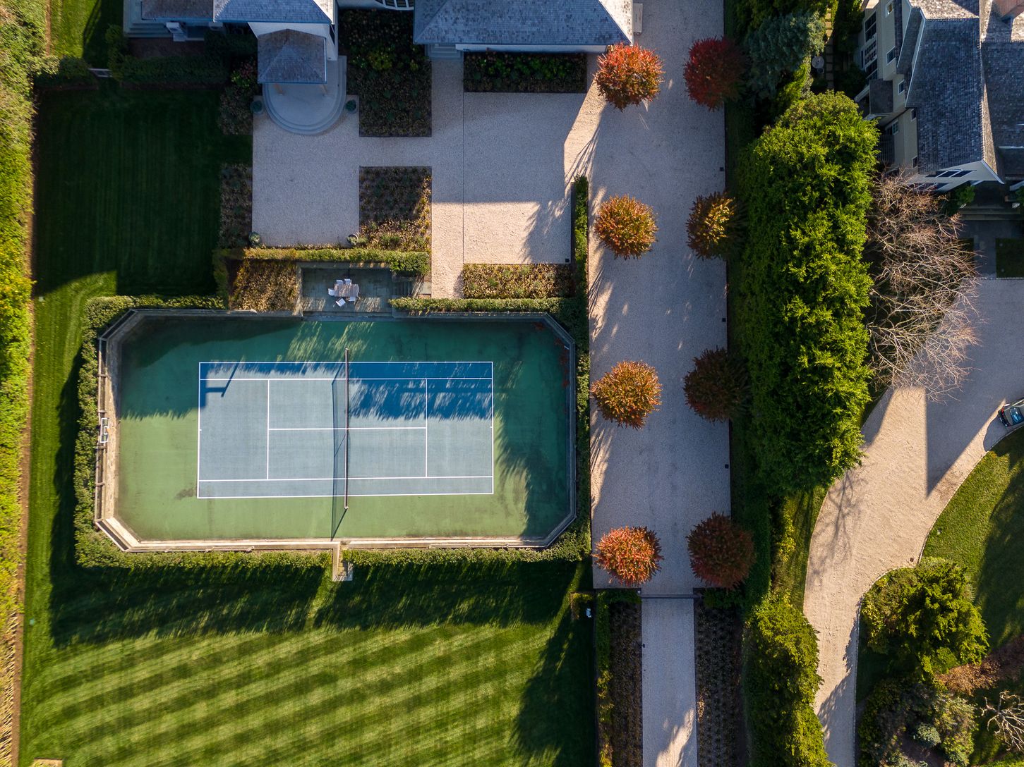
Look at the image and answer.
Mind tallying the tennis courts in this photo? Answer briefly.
1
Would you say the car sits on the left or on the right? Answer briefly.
right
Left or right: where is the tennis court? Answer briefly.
left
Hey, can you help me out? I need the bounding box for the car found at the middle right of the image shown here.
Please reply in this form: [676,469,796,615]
[1000,394,1024,426]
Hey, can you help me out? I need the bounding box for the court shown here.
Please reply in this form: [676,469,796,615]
[119,320,566,542]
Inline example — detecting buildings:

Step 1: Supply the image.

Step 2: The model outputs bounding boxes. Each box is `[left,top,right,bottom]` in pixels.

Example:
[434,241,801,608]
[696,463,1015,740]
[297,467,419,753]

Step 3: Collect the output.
[139,0,634,94]
[852,0,1024,226]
